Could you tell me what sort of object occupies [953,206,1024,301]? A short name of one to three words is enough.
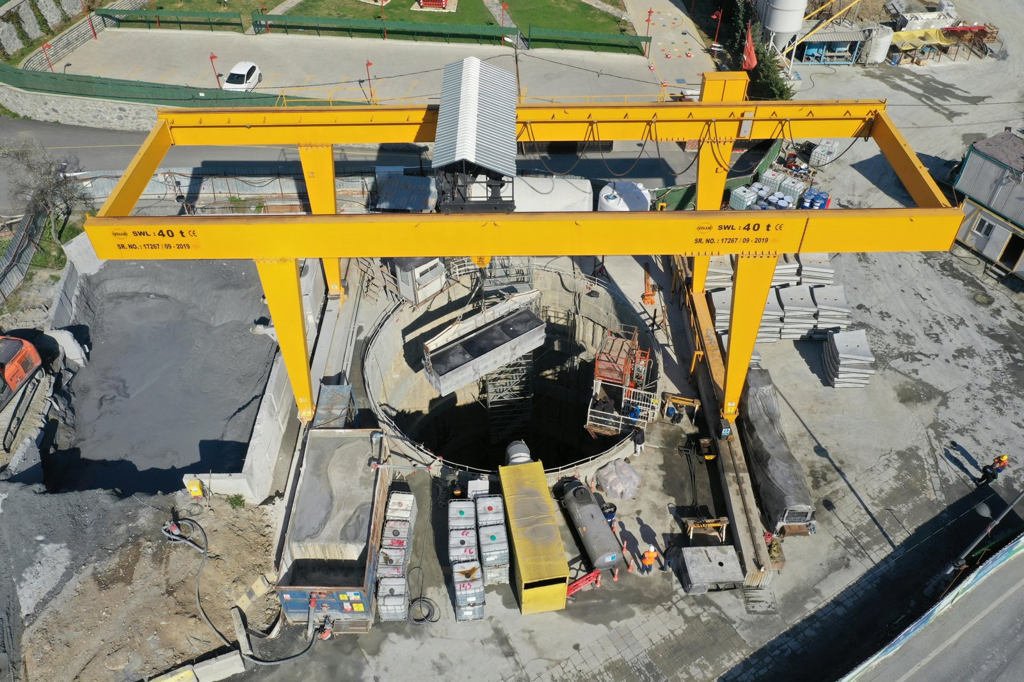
building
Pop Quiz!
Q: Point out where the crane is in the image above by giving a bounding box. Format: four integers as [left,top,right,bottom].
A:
[85,53,966,428]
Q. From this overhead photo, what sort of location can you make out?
industrial area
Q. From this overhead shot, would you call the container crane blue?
No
